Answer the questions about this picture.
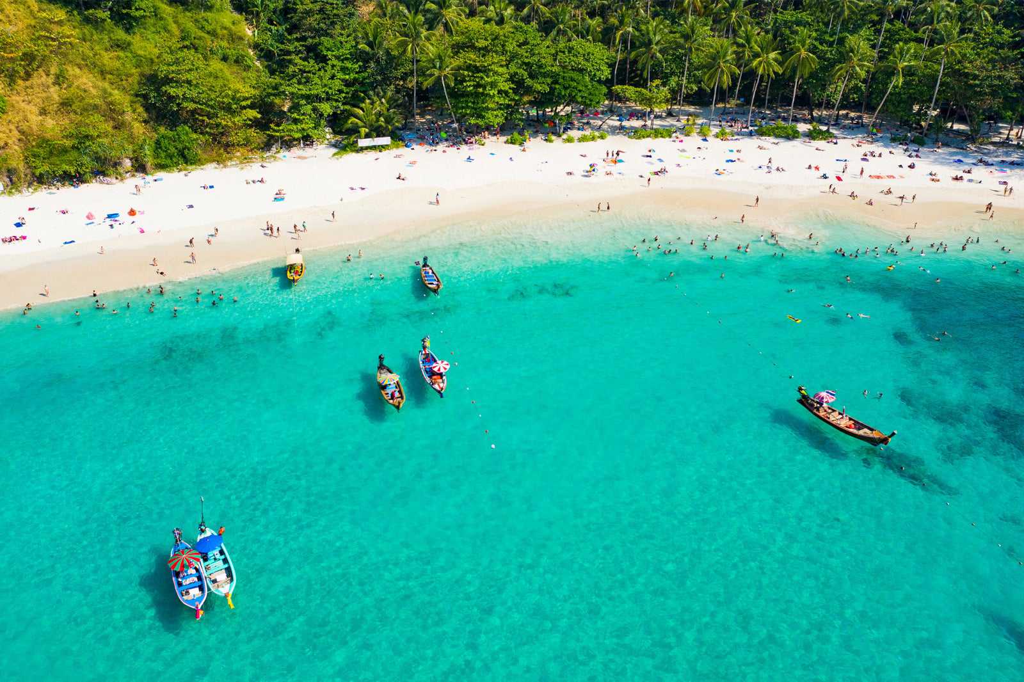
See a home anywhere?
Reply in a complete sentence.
No, the photo shows no home.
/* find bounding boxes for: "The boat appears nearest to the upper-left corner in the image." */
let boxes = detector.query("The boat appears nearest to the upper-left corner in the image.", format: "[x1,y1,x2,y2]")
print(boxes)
[284,242,306,282]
